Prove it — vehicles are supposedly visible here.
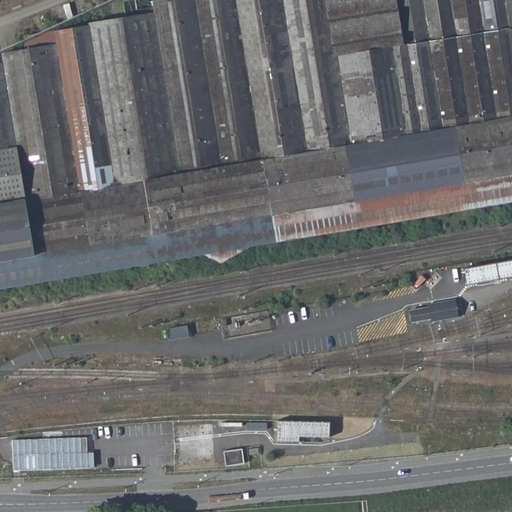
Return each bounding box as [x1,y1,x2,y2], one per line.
[302,307,307,319]
[104,426,110,438]
[93,428,98,439]
[453,268,460,282]
[470,300,476,312]
[398,470,408,475]
[132,454,137,466]
[208,492,249,502]
[328,336,334,348]
[118,426,124,436]
[289,311,295,323]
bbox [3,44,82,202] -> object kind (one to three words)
building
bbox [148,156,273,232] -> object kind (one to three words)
building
